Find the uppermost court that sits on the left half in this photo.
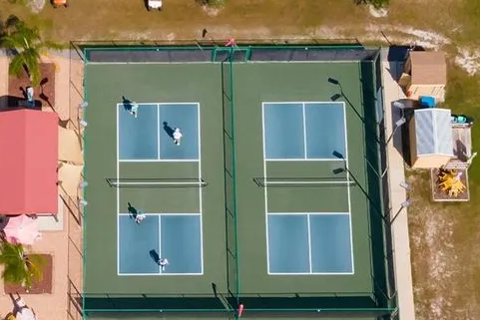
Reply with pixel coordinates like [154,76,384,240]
[84,60,237,312]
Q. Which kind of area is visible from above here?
sports ground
